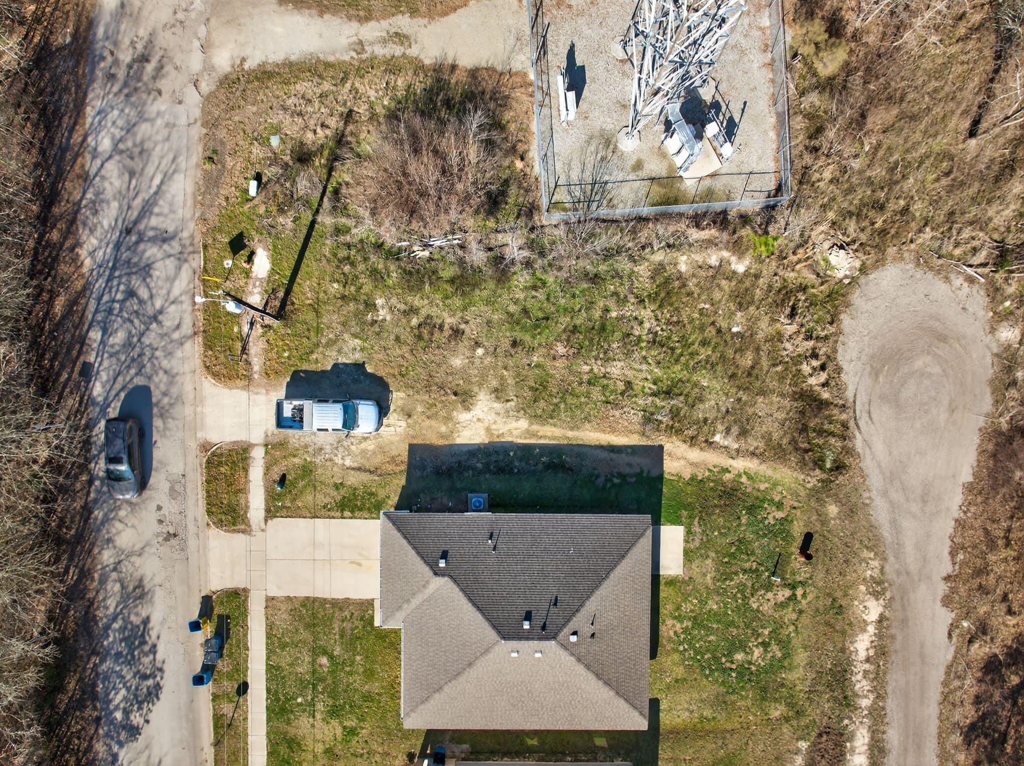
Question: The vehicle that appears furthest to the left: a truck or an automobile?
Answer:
automobile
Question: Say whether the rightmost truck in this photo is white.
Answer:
Yes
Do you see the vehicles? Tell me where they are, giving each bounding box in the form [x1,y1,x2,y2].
[99,419,147,499]
[276,393,386,440]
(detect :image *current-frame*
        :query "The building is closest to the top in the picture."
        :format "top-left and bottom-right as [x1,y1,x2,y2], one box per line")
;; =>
[378,511,651,731]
